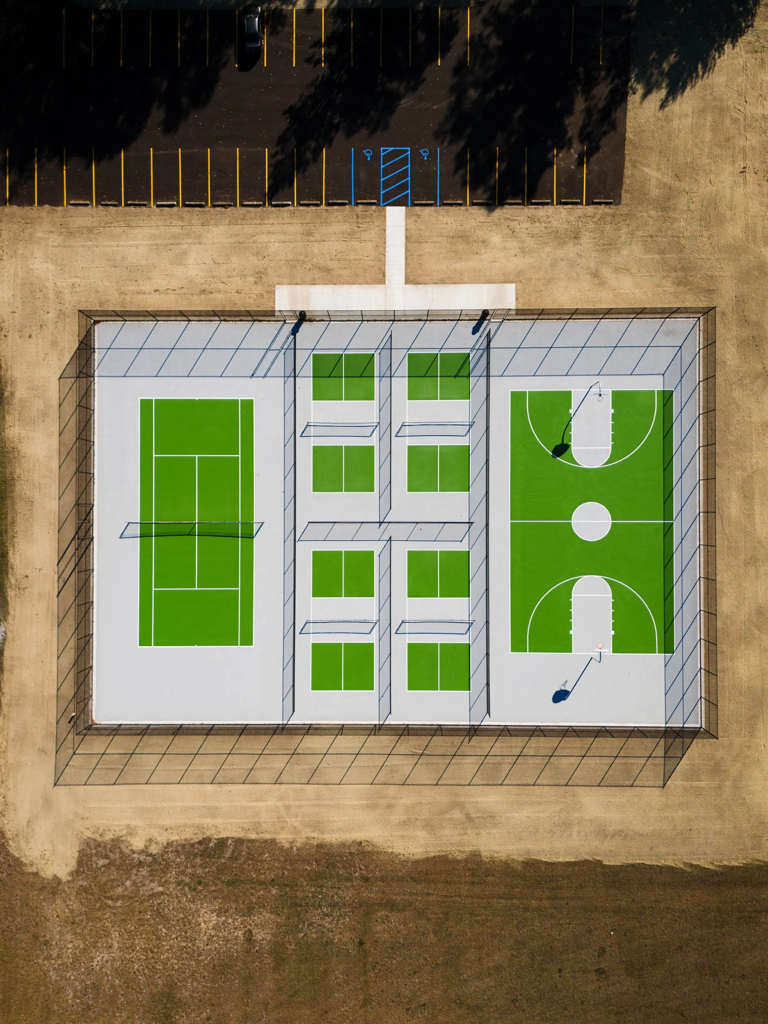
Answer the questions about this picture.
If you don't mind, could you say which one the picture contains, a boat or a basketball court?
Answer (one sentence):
There is a basketball court in the scene.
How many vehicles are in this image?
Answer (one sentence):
In total, there is 1 vehicle in the scene.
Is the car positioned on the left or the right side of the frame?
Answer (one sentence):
You can find the car on the left side of the picture.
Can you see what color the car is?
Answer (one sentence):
From above, the car appears black.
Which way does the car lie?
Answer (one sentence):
What the image shows is the car lying vertically.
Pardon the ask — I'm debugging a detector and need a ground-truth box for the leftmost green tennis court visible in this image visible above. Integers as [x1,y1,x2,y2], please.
[138,398,254,646]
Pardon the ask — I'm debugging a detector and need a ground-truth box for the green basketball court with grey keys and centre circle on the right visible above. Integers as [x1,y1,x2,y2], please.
[510,389,675,654]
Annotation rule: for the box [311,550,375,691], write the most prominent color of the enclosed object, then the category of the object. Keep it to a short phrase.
green sports court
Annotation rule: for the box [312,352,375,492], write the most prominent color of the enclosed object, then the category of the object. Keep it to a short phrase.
green sports court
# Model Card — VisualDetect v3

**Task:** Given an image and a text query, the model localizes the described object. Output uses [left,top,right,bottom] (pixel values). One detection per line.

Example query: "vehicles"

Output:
[241,3,264,51]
